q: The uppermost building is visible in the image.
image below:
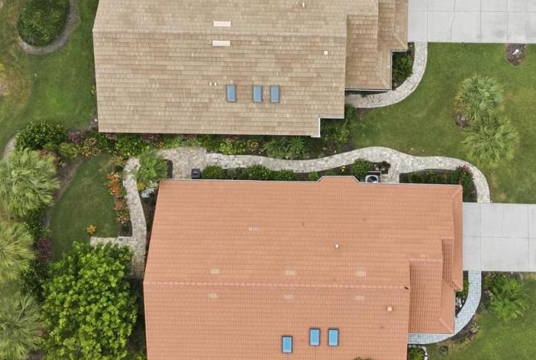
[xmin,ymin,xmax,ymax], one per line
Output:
[93,0,408,137]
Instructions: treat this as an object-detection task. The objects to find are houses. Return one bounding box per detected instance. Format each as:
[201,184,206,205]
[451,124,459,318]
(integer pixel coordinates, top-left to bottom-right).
[143,175,463,360]
[93,0,408,137]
